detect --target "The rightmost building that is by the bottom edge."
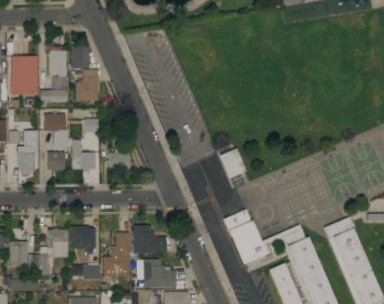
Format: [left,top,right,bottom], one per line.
[326,217,384,304]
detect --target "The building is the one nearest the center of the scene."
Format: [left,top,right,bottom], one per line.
[220,148,246,178]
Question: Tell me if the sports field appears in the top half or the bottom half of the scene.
top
